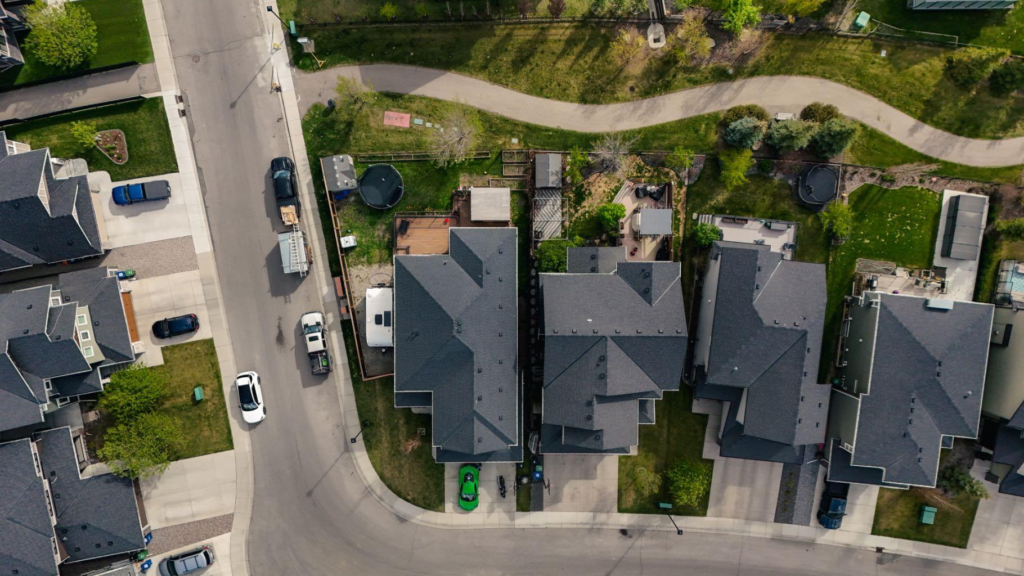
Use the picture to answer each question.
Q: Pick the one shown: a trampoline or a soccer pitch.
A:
trampoline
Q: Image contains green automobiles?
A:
Yes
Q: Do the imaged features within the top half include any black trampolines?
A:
Yes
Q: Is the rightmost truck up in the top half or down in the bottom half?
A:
bottom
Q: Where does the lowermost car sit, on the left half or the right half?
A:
left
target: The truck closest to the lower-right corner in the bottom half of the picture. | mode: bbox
[817,473,850,532]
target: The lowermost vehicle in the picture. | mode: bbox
[159,545,218,576]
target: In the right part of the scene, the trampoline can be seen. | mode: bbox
[799,160,845,206]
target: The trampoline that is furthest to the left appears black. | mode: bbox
[357,163,404,210]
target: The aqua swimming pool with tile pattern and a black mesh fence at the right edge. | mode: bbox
[994,260,1024,295]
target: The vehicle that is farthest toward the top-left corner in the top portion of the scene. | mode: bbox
[109,179,175,207]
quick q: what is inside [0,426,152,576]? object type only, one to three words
house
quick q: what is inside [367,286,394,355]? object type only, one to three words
trailer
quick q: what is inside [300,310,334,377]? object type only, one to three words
truck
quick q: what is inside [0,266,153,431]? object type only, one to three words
house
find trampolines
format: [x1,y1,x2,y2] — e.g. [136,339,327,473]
[799,160,845,206]
[357,163,404,210]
